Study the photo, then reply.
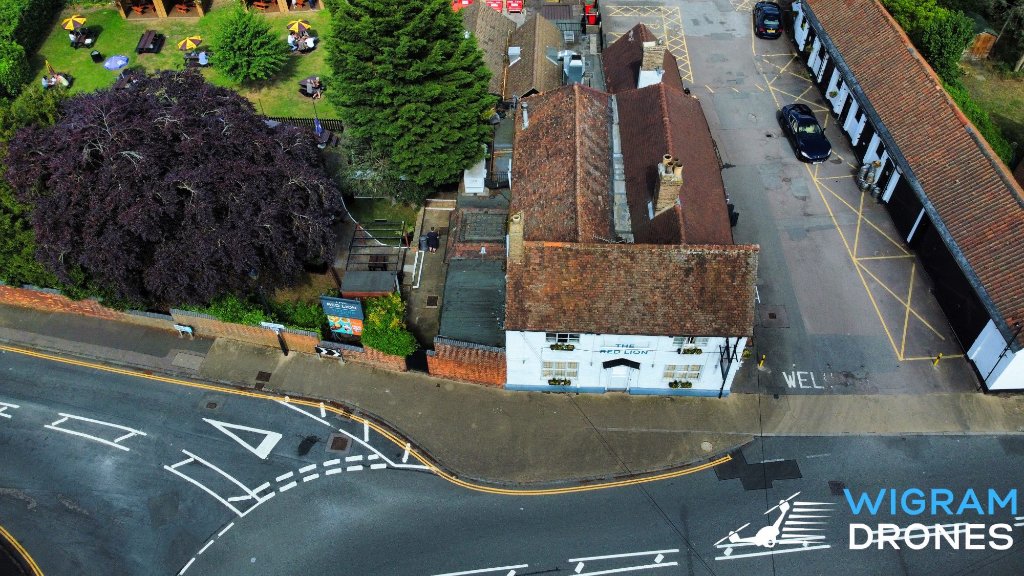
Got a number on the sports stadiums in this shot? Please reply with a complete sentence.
The picture shows no sports stadiums.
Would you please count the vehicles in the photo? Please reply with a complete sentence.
Looking from above, you can make out 2 vehicles.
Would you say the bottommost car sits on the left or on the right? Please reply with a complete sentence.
The bottommost car appears in the right half of the scene.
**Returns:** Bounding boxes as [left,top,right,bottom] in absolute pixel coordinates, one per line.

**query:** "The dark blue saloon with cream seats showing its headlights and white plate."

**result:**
[786,106,836,161]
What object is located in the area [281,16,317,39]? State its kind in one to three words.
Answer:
umbrella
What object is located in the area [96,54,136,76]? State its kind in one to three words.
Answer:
umbrella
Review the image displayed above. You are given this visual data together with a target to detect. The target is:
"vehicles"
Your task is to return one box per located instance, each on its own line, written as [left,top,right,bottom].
[786,106,836,161]
[756,3,785,37]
